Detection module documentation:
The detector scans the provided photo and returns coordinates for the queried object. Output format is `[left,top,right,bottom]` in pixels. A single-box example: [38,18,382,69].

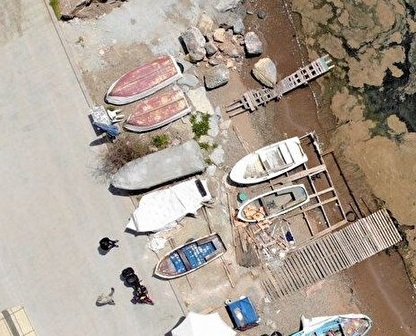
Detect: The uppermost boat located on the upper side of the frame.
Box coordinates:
[106,55,187,106]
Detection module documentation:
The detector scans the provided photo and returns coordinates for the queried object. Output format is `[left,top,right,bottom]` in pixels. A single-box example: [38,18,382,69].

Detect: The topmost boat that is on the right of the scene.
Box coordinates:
[228,133,312,183]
